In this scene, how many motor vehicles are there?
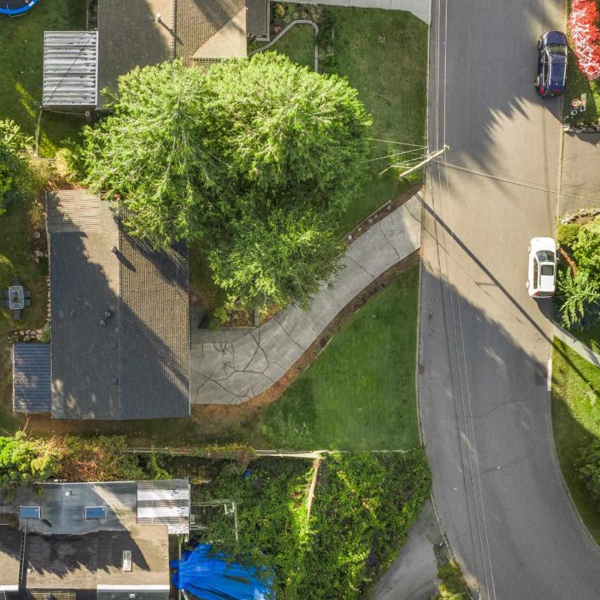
2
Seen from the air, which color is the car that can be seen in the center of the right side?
white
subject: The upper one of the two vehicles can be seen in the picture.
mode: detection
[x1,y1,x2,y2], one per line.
[535,31,571,97]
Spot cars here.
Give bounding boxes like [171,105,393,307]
[535,31,571,97]
[526,237,561,299]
